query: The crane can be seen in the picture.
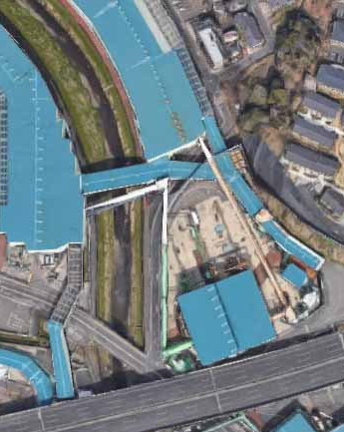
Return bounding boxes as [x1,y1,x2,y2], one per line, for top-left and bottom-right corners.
[199,139,302,324]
